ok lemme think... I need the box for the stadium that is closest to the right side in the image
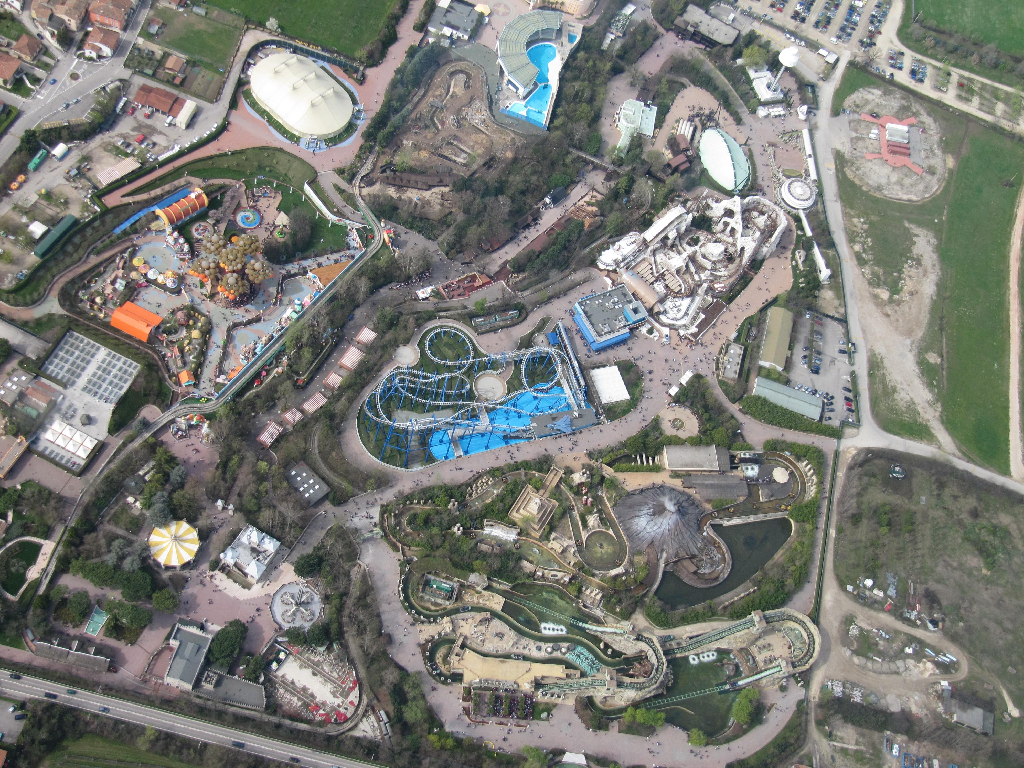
[697,127,751,195]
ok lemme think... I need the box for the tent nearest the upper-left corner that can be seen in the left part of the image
[241,53,359,145]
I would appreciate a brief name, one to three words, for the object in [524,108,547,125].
swimming pool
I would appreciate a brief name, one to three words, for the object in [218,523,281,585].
building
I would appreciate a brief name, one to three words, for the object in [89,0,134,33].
house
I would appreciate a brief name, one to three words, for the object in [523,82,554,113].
swimming pool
